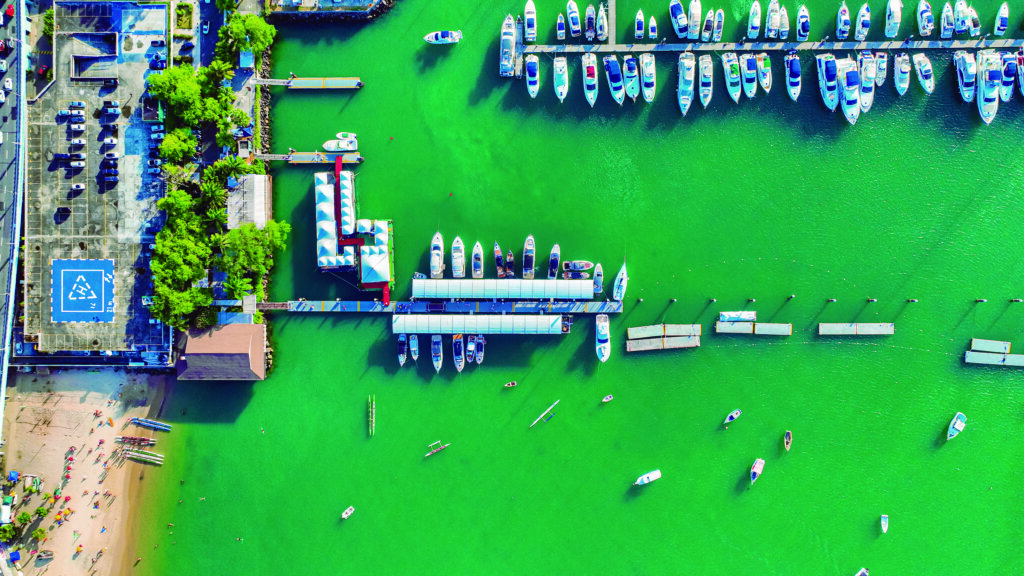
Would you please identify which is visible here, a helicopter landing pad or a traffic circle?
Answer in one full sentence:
Looking from above, you can make out a helicopter landing pad.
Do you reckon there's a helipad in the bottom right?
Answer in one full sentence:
No, no helipad appears in the bottom right.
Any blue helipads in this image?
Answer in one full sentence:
Yes, the image includes a blue helipad.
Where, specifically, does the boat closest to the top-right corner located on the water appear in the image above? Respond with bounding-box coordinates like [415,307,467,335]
[993,2,1010,38]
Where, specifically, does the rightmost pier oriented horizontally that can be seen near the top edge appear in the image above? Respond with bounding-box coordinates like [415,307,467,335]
[516,21,1024,79]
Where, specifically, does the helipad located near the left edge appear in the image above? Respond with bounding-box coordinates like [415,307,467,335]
[51,260,115,322]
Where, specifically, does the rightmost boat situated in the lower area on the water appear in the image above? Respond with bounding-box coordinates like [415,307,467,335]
[947,413,965,438]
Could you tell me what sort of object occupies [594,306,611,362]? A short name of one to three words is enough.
boat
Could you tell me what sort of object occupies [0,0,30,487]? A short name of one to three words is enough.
bridge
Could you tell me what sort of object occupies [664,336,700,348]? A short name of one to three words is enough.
pier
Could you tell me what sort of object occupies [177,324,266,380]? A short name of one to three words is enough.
building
